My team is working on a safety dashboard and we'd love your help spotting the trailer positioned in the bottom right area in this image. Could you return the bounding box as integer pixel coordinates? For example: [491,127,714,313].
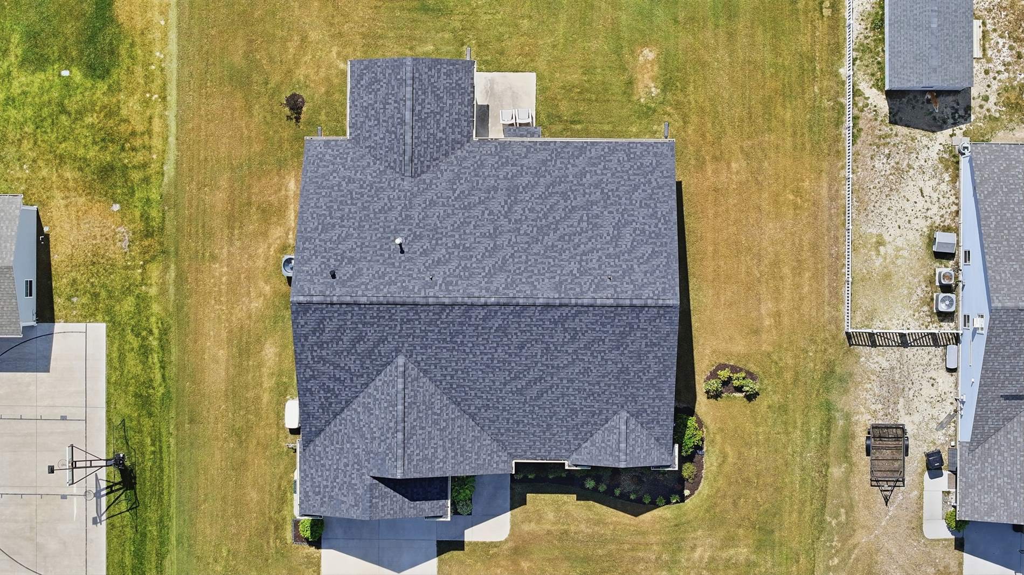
[865,424,910,506]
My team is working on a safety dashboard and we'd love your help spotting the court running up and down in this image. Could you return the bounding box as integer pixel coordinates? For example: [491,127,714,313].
[0,323,106,575]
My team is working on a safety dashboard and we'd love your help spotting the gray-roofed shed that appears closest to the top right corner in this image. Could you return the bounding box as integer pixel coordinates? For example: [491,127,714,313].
[884,0,973,90]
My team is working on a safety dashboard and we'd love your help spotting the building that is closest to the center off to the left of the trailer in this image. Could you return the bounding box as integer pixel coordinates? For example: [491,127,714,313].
[290,47,680,520]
